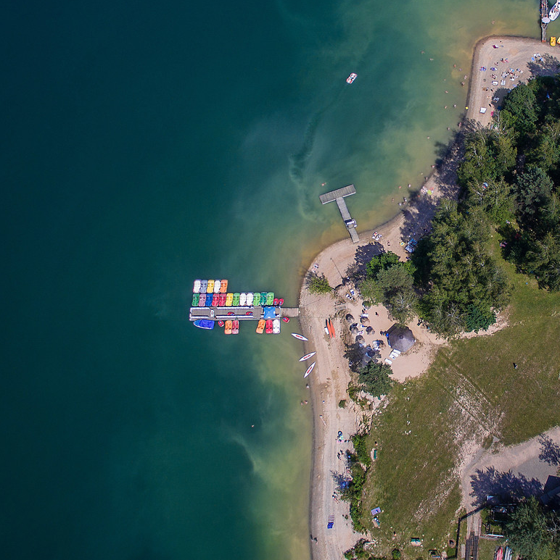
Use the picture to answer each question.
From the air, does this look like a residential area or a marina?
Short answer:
marina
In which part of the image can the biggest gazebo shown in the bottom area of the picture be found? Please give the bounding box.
[385,324,416,354]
